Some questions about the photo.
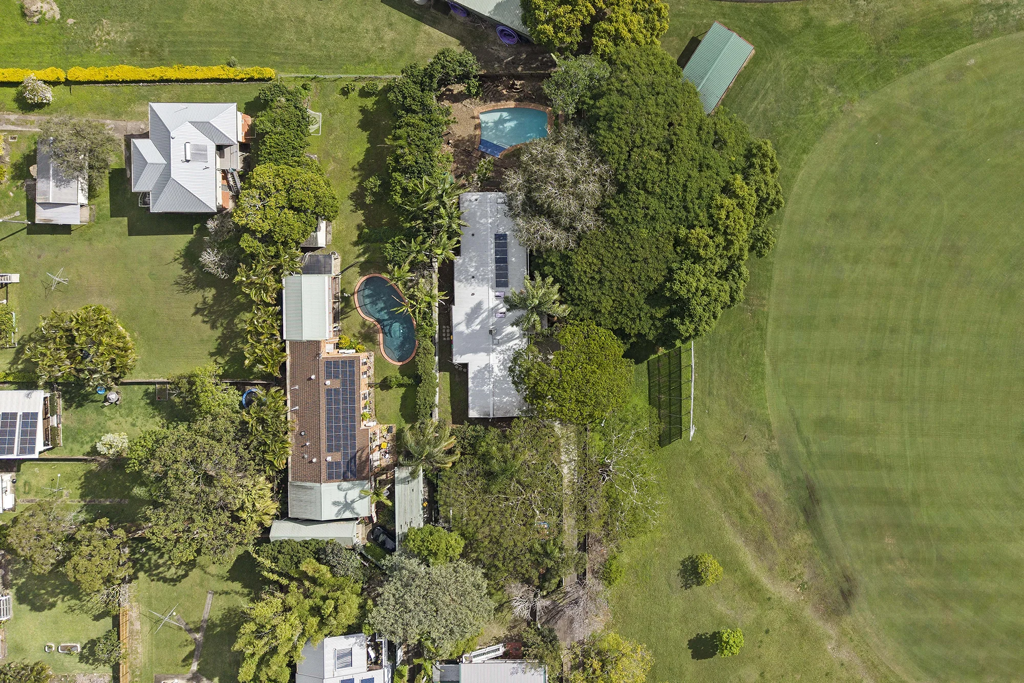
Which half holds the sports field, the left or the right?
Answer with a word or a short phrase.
right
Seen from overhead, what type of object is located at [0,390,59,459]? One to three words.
house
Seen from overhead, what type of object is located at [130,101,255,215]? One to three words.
house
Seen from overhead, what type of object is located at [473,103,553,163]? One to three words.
swimming pool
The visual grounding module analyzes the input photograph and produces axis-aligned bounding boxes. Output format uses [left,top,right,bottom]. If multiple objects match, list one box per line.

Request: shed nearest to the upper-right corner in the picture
[675,21,754,110]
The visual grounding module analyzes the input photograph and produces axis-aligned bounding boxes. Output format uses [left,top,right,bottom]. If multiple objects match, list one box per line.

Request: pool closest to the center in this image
[354,274,418,365]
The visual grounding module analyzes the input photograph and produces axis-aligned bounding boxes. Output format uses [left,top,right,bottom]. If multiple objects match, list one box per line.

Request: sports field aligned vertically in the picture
[767,33,1024,683]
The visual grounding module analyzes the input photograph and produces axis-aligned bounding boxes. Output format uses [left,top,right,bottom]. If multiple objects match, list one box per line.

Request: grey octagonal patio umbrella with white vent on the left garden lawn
[105,389,124,405]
